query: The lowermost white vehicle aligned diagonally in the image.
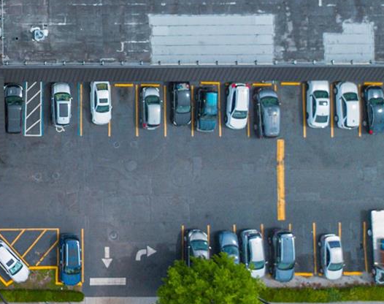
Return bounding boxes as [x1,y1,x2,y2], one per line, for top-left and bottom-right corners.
[0,239,32,285]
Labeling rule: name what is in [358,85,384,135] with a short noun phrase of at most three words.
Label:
car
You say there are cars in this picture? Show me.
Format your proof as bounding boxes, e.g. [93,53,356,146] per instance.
[48,83,74,131]
[212,227,239,269]
[182,226,210,275]
[358,85,384,135]
[252,87,281,139]
[57,233,83,283]
[237,229,265,278]
[138,86,163,130]
[267,230,296,281]
[330,83,360,129]
[314,232,343,279]
[168,83,194,126]
[193,87,219,133]
[0,239,32,285]
[302,83,330,128]
[223,83,251,129]
[88,83,114,126]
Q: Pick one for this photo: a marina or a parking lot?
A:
parking lot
